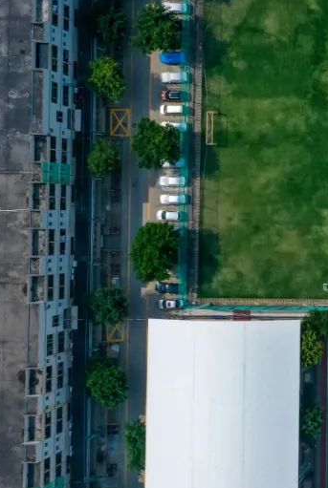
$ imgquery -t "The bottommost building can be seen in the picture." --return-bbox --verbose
[144,319,307,488]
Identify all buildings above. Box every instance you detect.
[0,0,81,488]
[144,319,307,488]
